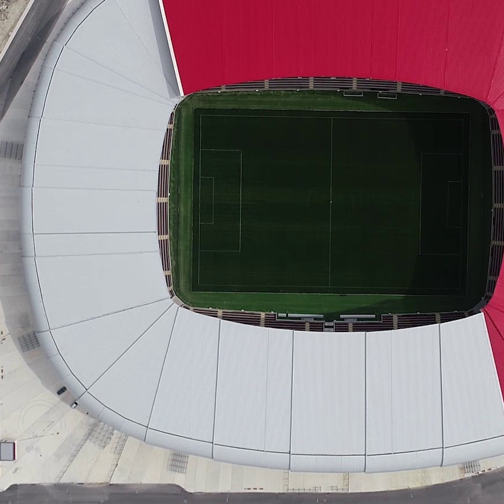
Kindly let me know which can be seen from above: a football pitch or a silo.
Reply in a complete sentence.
The image shows a football pitch.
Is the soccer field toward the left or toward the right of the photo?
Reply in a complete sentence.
The soccer field is on the right side of the image.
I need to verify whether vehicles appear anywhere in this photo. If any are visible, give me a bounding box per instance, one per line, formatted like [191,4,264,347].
[55,387,67,395]
[70,399,78,410]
